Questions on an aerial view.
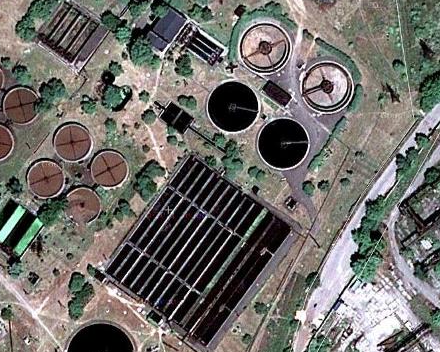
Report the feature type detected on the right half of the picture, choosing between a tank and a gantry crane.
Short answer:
tank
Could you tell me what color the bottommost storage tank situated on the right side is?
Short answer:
black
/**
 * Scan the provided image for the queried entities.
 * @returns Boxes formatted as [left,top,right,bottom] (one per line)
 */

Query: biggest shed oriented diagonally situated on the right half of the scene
[263,80,291,106]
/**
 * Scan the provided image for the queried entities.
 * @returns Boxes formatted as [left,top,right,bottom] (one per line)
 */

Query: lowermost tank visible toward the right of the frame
[257,117,312,170]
